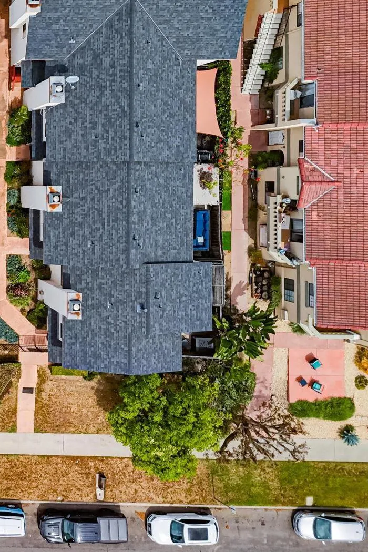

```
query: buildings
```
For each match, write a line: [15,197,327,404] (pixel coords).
[9,0,248,374]
[232,0,368,339]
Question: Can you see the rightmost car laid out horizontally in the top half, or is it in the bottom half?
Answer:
bottom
